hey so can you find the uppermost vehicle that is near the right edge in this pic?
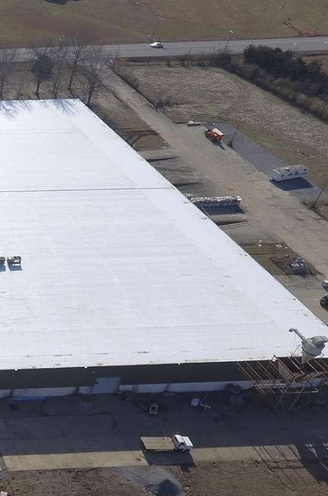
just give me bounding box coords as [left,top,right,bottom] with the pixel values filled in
[268,161,312,179]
